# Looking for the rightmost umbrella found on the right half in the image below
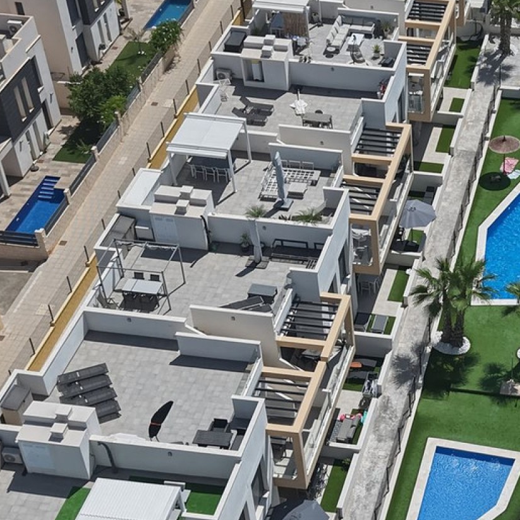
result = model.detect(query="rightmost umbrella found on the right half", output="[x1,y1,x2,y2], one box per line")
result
[489,129,520,174]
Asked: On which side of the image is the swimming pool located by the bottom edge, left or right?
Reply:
right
